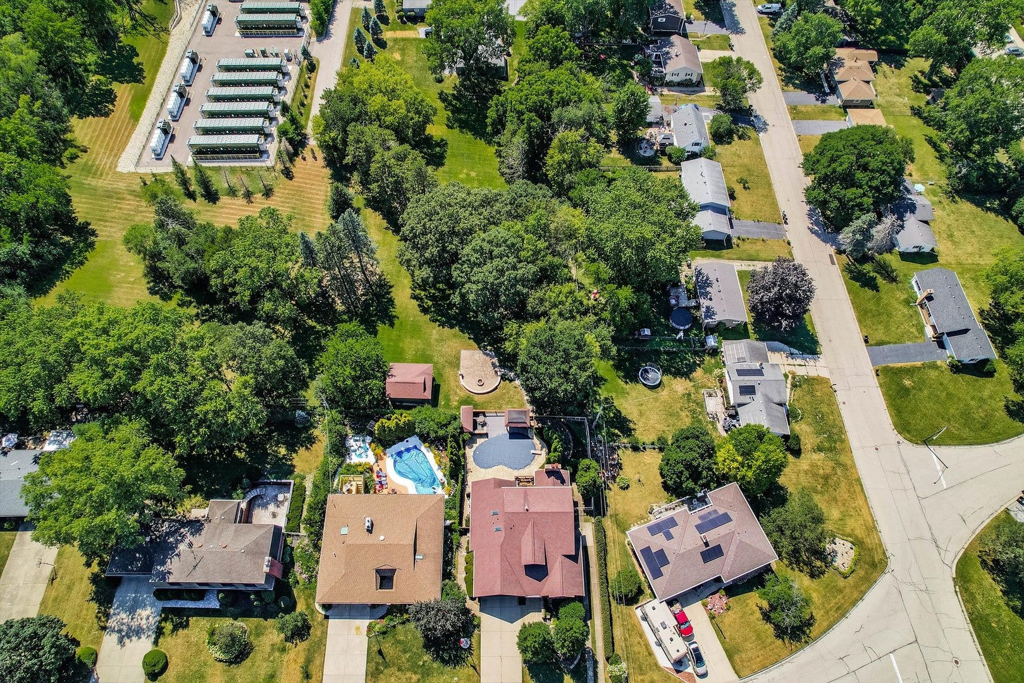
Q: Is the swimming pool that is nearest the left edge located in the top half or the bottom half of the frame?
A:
bottom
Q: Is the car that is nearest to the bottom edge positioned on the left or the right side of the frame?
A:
right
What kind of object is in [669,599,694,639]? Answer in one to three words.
truck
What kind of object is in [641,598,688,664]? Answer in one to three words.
vehicle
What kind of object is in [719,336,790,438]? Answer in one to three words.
house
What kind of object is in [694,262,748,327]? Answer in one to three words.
house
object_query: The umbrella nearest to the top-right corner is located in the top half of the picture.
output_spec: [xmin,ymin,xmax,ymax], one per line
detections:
[912,182,927,194]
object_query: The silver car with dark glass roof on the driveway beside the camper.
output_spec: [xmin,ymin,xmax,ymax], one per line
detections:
[686,641,706,676]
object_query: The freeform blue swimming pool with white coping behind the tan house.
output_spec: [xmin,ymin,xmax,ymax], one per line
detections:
[385,436,447,494]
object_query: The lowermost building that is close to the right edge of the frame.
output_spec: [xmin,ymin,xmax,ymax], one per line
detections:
[909,269,994,363]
